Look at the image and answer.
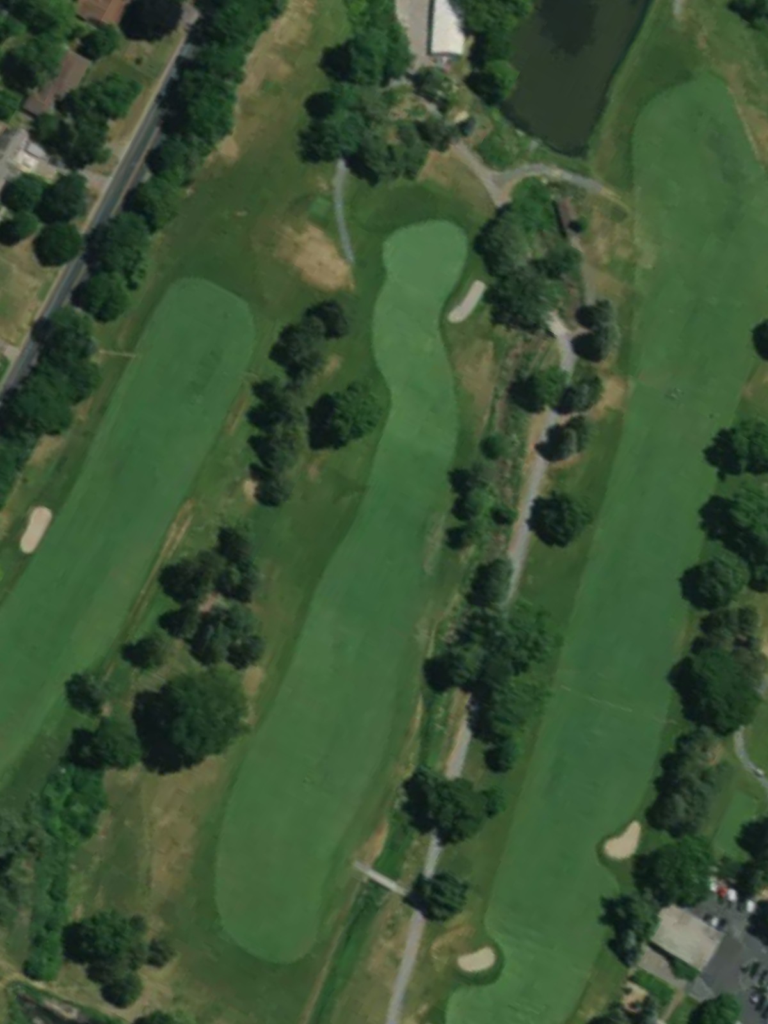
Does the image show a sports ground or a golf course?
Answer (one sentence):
This looks like a golf course.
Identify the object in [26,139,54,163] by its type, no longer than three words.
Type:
house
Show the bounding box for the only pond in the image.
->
[502,0,647,156]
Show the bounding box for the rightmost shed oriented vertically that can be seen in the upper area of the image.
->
[559,197,580,231]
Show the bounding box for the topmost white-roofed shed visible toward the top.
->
[431,0,465,56]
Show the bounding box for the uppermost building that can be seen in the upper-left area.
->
[77,0,129,28]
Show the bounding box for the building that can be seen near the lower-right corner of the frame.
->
[652,904,724,971]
